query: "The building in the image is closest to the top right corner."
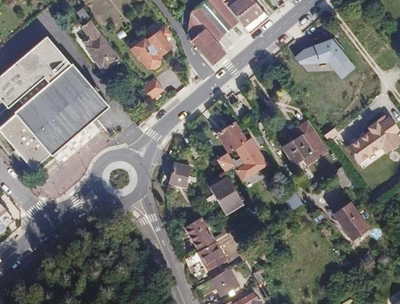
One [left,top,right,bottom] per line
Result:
[295,38,356,79]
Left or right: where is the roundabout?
left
